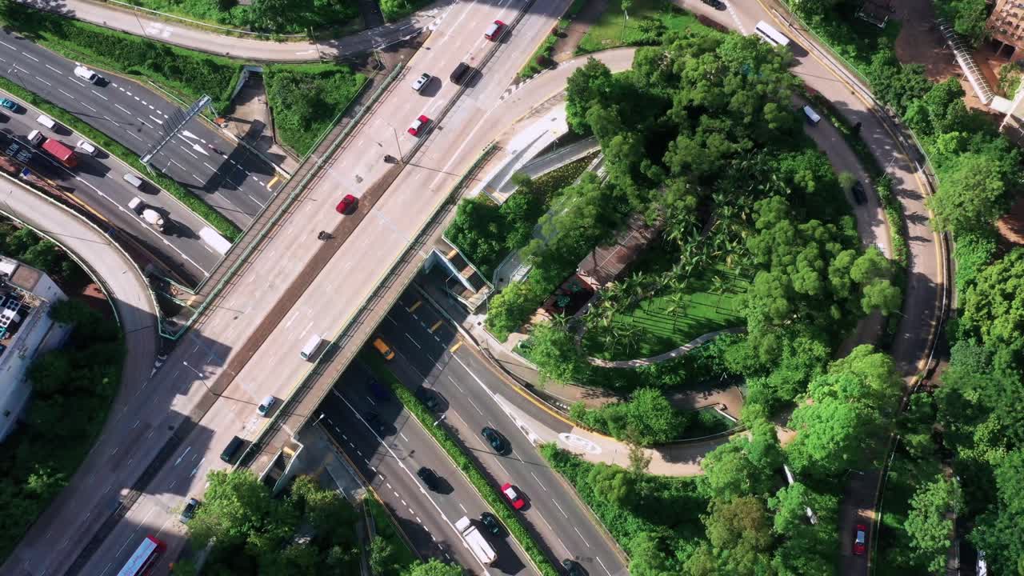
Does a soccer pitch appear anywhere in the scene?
No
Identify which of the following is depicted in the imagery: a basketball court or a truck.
truck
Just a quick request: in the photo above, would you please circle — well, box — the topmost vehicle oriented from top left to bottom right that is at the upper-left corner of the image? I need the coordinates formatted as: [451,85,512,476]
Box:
[71,62,101,84]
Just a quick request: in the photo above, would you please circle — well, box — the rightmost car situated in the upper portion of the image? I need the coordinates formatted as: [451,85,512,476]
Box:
[848,181,868,207]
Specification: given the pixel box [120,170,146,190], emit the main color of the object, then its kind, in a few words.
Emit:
white vehicle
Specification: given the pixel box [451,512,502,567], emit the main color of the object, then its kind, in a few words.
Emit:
white truck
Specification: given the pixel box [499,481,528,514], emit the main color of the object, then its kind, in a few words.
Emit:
red car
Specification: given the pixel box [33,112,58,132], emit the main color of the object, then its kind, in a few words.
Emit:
white vehicle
